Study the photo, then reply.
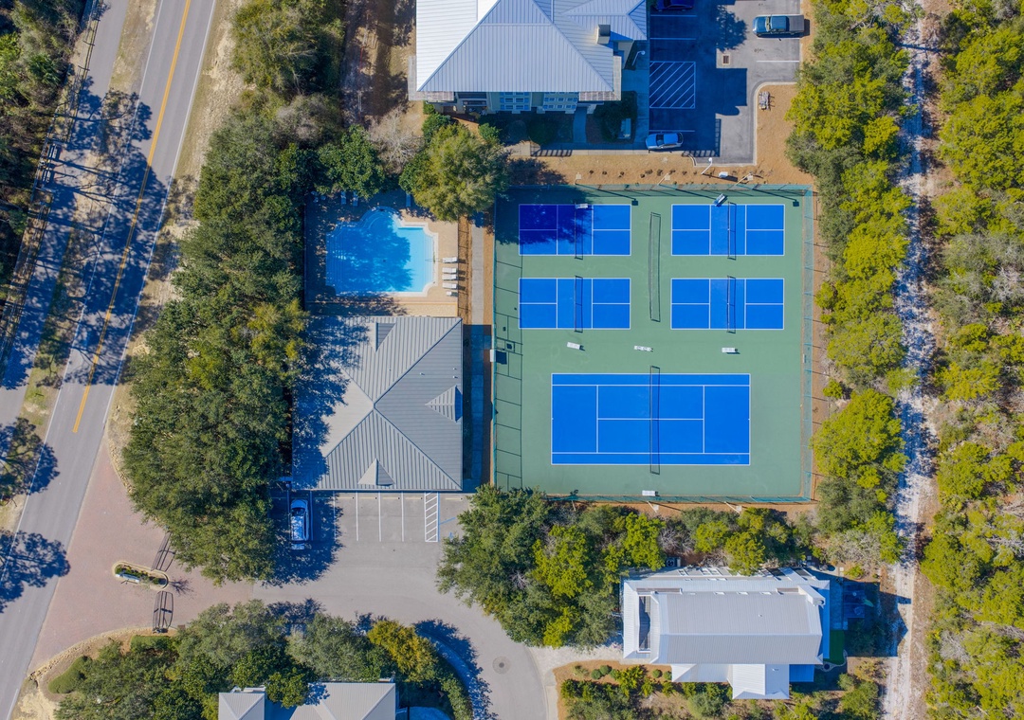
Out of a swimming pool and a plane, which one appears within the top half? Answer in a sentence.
The feature located within the top half is a swimming pool.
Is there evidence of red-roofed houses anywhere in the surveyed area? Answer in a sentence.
No, no red-roofed house is visible in the scene.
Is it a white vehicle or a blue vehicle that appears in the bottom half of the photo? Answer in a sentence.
You can see a blue vehicle in the bottom half of the photo.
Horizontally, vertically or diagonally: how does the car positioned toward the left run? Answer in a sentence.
What the image shows is the car positioned toward the left lying vertically.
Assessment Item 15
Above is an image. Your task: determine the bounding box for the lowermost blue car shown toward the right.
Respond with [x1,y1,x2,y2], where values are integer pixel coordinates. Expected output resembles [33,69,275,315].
[646,130,684,149]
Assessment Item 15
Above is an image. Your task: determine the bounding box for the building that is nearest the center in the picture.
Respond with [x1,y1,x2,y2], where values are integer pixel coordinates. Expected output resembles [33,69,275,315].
[279,316,463,492]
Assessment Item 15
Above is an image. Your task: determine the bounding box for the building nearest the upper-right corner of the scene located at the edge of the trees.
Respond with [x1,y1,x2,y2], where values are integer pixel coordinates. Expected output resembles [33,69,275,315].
[408,0,648,114]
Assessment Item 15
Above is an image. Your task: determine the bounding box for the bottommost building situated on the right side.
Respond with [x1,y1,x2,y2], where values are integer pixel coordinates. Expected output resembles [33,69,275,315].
[621,572,830,700]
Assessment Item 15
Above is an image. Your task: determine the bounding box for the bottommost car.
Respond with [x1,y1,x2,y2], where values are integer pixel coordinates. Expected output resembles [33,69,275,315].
[287,500,307,547]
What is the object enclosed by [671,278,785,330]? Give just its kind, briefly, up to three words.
sports court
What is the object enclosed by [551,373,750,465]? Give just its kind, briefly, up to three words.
tennis court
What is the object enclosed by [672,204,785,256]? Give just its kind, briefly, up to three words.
sports court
